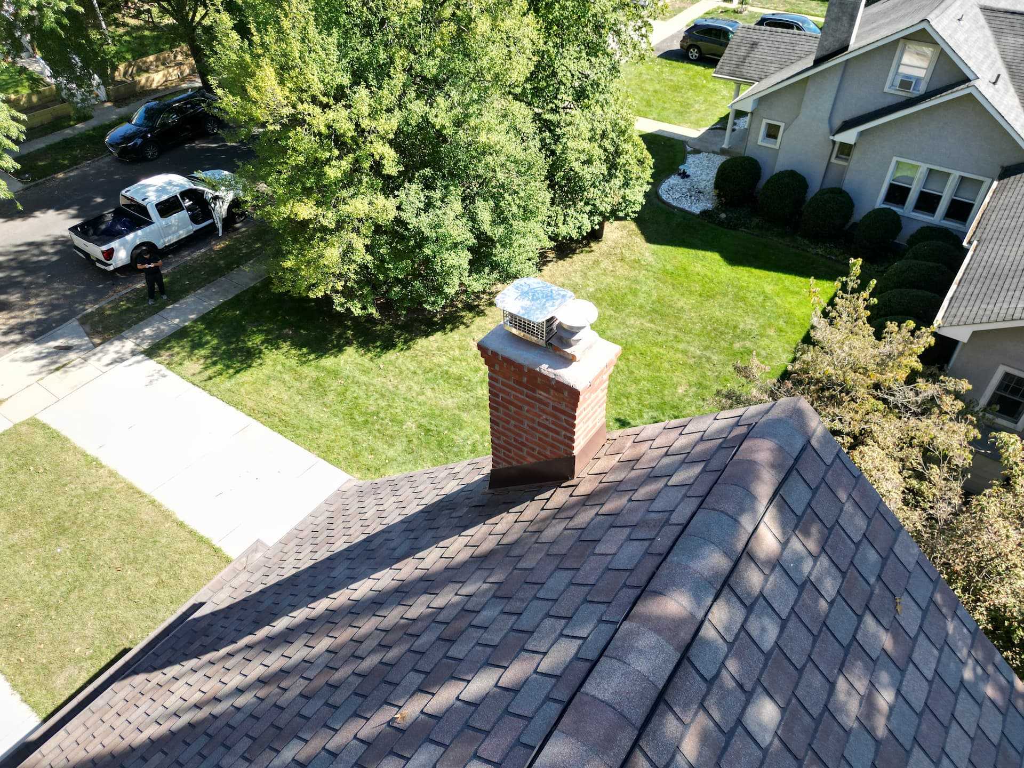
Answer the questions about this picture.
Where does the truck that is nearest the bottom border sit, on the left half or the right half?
left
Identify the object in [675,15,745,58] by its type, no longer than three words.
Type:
car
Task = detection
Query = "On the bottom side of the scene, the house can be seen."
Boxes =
[0,278,1024,768]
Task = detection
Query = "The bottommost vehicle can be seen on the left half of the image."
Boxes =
[58,167,254,271]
